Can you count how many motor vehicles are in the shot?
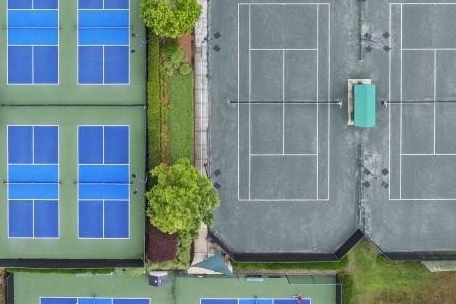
0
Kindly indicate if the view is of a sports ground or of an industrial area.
sports ground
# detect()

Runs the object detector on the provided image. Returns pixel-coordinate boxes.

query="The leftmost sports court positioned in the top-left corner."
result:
[7,0,58,85]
